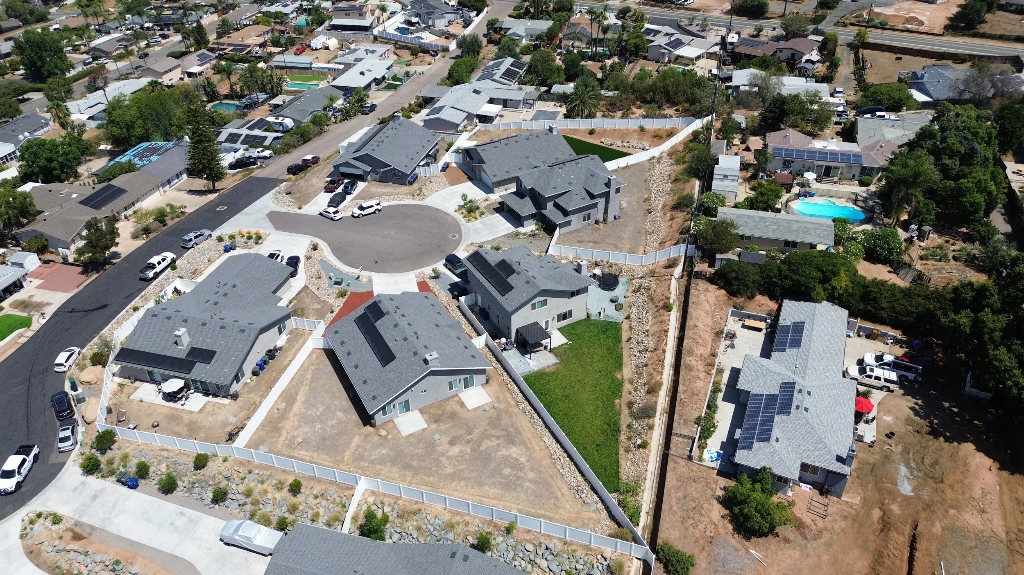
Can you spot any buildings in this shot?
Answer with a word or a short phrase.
Yes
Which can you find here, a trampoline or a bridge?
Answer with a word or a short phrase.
trampoline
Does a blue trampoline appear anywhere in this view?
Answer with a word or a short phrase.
No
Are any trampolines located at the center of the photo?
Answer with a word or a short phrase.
Yes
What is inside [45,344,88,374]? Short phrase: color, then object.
white car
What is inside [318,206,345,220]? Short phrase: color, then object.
white car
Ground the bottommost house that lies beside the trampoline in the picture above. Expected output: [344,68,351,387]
[460,242,595,349]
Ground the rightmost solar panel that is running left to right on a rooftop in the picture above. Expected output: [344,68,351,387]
[774,148,863,160]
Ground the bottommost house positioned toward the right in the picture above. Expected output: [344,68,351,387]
[733,297,861,497]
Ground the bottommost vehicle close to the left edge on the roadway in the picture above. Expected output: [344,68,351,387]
[0,444,48,499]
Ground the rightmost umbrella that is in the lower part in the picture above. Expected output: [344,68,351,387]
[860,399,883,415]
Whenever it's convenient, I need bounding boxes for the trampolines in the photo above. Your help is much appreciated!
[599,269,623,295]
